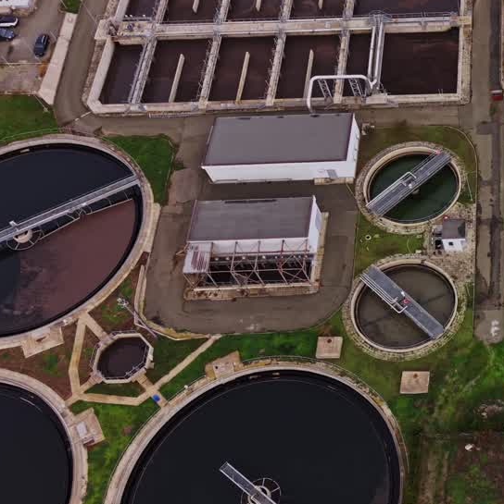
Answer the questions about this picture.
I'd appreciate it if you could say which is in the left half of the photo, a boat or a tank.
tank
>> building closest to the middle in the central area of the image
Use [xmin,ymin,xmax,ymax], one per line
[177,195,320,288]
